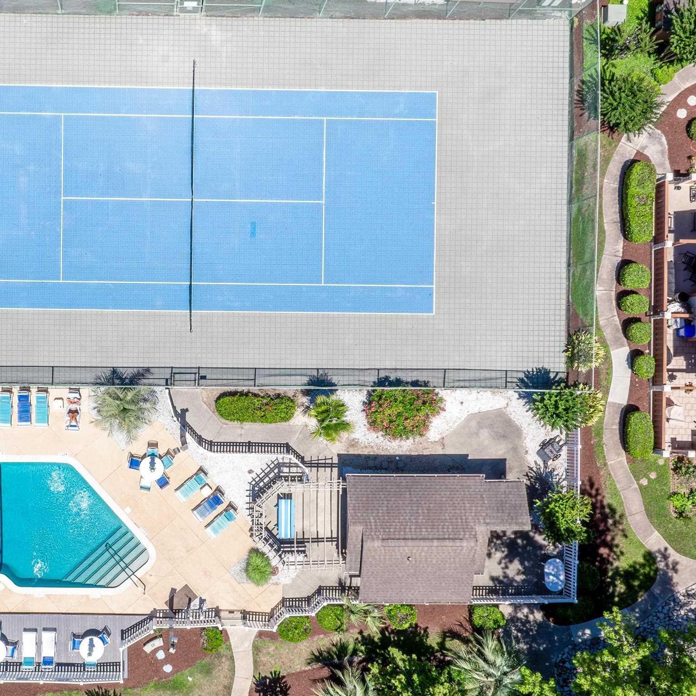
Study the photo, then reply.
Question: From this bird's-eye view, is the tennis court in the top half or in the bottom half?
top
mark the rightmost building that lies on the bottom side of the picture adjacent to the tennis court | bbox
[345,471,530,607]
